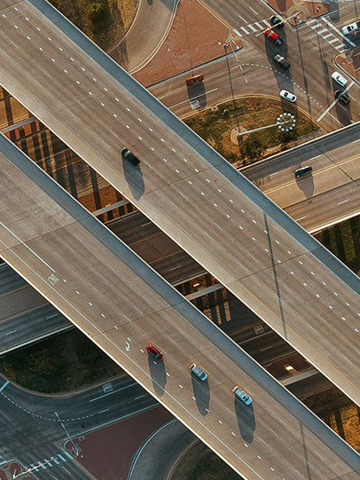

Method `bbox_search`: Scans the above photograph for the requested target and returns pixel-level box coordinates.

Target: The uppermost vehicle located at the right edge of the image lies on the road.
[344,20,360,32]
